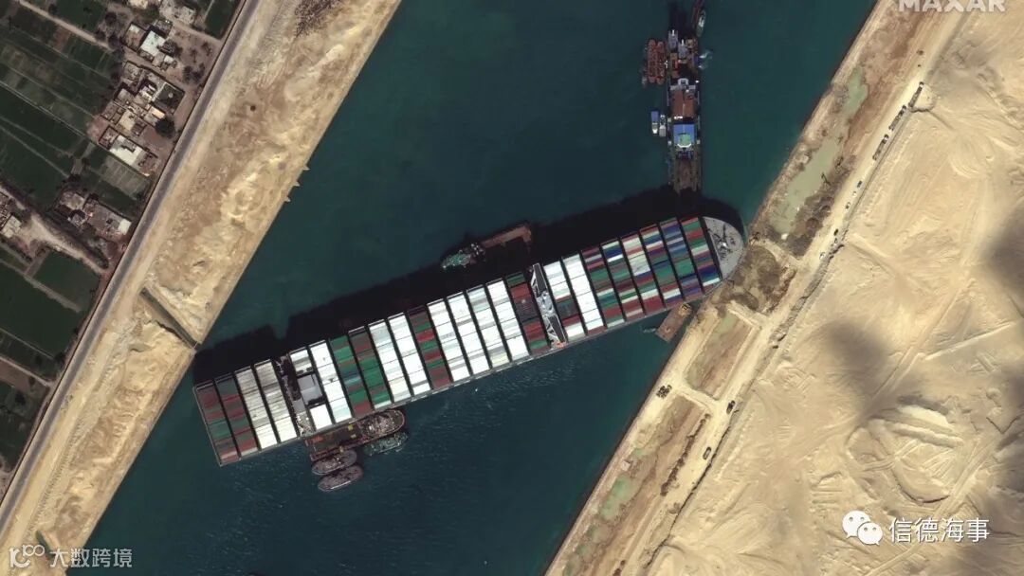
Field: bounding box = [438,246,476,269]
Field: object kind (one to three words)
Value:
boat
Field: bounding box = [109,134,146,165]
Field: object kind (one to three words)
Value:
house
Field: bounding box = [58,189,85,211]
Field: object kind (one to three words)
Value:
house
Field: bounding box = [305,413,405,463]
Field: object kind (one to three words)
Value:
ship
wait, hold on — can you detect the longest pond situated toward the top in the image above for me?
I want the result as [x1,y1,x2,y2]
[772,135,845,234]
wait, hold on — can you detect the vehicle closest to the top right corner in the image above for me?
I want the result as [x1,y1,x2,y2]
[910,82,923,107]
